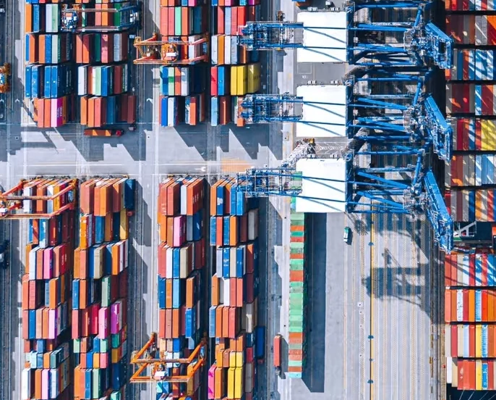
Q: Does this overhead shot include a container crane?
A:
Yes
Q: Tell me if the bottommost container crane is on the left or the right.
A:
left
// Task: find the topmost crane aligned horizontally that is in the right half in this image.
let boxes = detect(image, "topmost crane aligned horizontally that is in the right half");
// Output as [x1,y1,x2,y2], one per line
[237,0,452,75]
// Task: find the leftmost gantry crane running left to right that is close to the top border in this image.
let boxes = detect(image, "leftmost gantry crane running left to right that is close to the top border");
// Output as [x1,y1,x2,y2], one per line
[55,0,139,36]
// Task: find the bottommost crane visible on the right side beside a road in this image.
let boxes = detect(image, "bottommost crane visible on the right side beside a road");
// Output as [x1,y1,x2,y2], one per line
[237,124,452,253]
